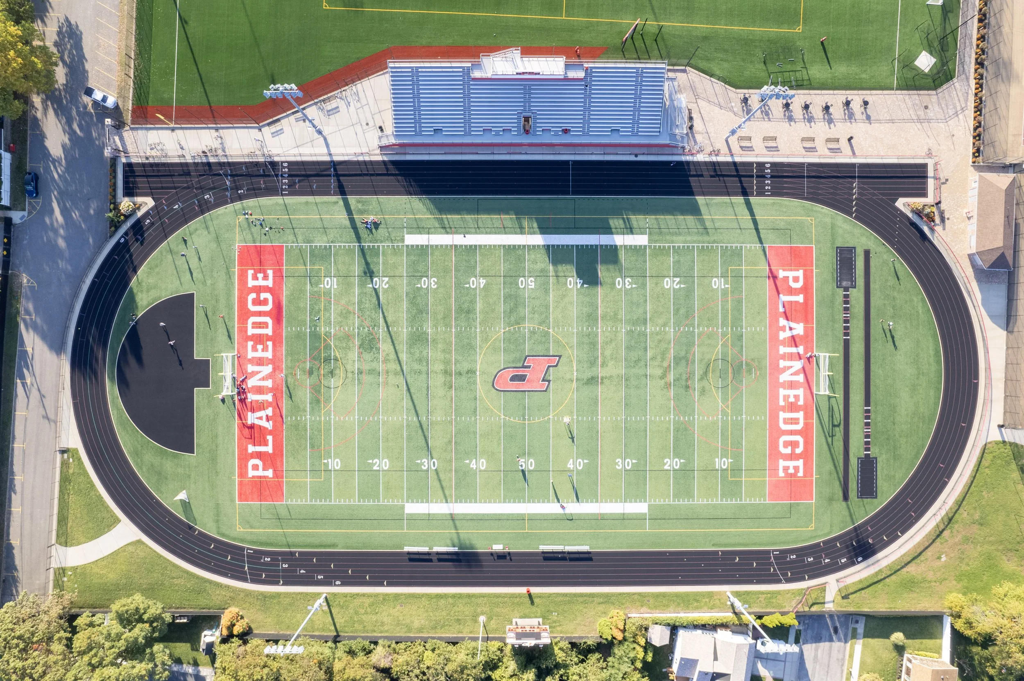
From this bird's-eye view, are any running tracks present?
Yes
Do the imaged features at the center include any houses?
No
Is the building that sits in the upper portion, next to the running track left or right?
right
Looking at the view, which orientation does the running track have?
from side to side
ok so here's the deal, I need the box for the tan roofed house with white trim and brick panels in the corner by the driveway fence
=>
[898,651,958,681]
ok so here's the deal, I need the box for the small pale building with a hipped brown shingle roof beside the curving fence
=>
[966,173,1016,270]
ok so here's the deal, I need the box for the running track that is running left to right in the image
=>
[71,160,979,587]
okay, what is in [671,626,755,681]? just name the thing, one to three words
house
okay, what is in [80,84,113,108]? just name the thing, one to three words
truck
